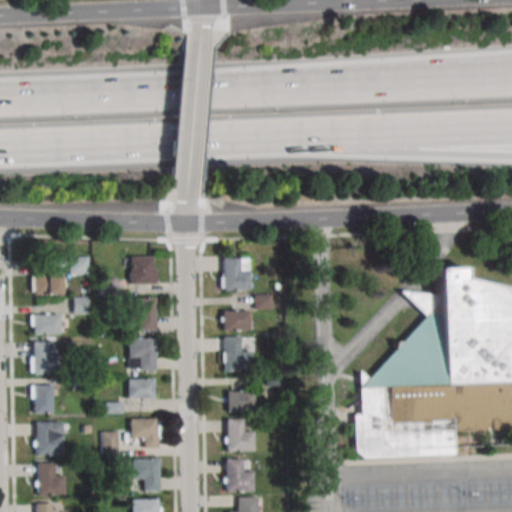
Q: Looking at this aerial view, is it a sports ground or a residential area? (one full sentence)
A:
This image shows a residential area.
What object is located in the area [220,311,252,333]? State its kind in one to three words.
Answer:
house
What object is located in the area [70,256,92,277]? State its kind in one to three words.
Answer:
building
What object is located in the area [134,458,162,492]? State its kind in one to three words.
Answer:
house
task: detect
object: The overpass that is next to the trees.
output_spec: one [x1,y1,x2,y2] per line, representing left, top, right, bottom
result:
[174,33,230,203]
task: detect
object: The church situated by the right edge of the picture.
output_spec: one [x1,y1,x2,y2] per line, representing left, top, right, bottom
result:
[355,266,512,459]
